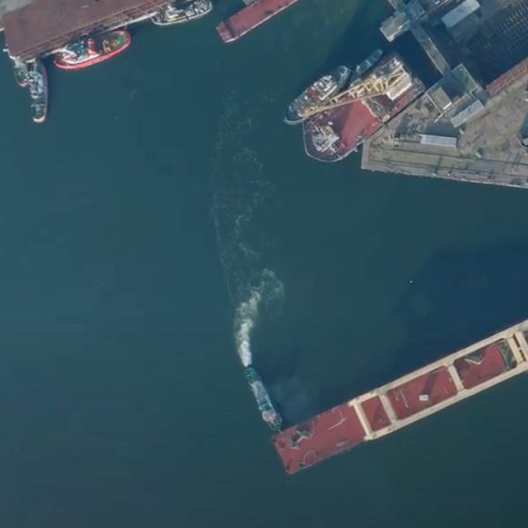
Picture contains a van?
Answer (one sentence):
No, no van is visible in the scene.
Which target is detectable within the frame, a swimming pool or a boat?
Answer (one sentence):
The one in the frame is a boat.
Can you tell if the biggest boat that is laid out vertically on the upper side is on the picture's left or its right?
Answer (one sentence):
The biggest boat that is laid out vertically on the upper side sits on the left side.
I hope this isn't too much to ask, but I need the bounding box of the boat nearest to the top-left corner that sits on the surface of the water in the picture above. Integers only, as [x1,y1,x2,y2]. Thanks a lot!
[6,54,30,88]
